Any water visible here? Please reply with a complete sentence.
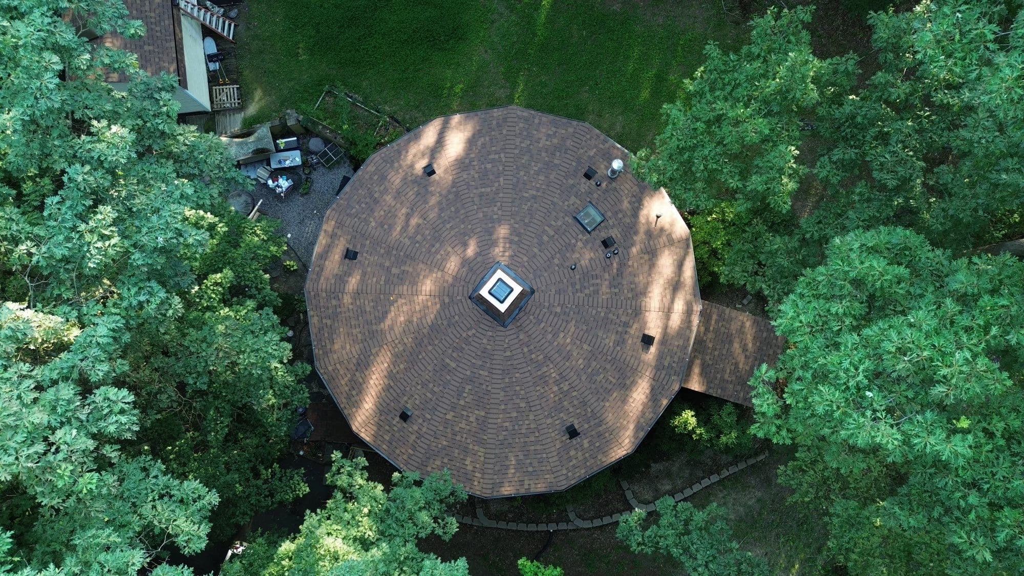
No, no water is visible.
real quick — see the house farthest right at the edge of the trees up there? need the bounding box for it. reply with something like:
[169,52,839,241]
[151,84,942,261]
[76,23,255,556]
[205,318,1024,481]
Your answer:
[302,104,785,501]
